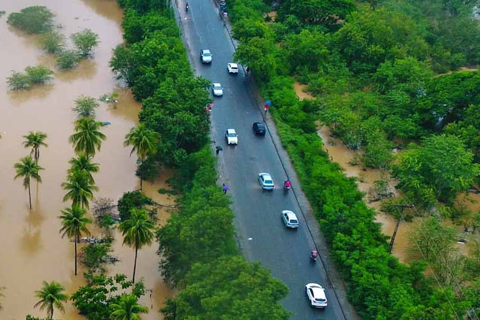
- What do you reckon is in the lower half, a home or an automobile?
automobile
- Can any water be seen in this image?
Yes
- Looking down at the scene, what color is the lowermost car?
white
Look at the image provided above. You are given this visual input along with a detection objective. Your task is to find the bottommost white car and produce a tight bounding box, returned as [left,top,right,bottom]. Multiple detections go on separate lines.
[305,283,331,308]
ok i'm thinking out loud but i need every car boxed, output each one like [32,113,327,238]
[257,173,274,190]
[305,283,331,308]
[223,125,239,145]
[251,121,266,135]
[210,83,224,97]
[200,49,213,62]
[227,63,239,74]
[279,210,299,229]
